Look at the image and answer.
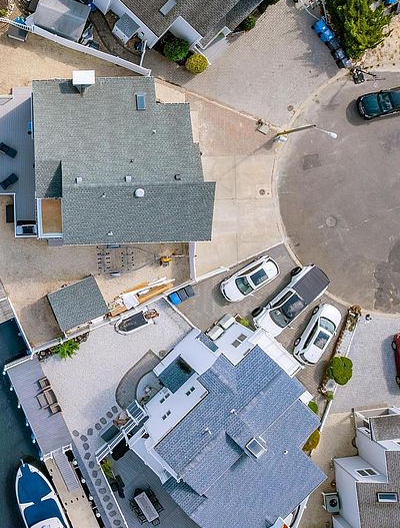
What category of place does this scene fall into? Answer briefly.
residential area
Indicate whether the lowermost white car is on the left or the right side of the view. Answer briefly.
right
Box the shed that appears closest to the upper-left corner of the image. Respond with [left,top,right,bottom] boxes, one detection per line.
[34,0,91,43]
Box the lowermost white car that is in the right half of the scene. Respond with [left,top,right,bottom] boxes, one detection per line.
[292,302,341,366]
